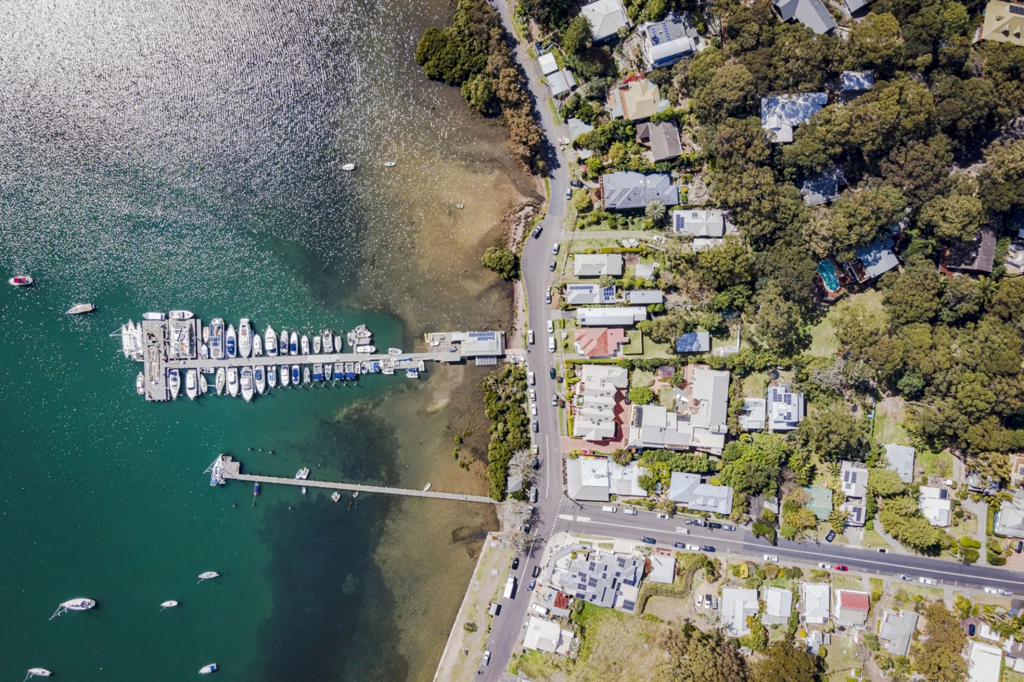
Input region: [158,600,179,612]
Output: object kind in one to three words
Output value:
boat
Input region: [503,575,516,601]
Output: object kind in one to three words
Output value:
vehicle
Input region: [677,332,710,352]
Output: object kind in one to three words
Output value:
building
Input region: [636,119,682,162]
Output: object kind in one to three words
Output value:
house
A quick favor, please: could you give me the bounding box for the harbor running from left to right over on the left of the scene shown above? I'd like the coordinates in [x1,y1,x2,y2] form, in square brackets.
[142,319,460,400]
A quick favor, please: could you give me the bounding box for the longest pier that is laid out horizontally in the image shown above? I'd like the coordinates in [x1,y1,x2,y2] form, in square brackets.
[222,456,503,504]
